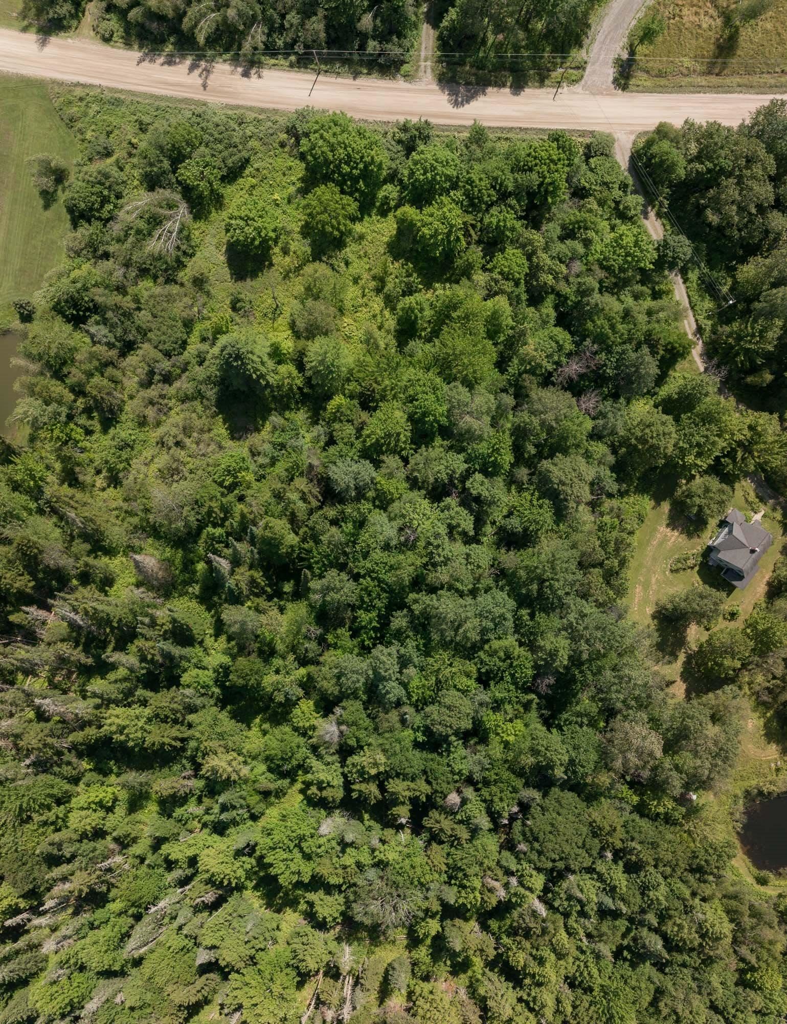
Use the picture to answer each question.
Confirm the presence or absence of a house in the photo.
Yes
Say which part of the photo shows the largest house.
right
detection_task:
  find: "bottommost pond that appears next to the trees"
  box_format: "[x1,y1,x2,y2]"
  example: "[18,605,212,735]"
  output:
[734,796,787,875]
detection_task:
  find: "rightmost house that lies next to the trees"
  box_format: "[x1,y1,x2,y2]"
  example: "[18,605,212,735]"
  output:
[706,509,777,593]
